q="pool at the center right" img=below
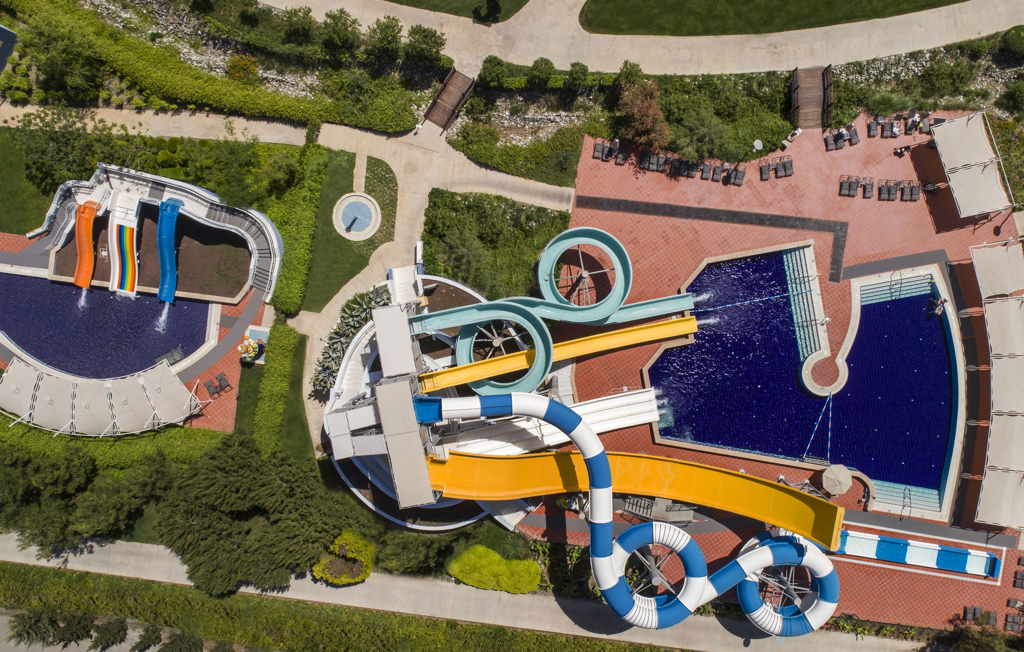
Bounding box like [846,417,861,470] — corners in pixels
[641,239,968,523]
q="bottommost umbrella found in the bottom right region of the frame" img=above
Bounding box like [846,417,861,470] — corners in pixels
[818,464,852,495]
